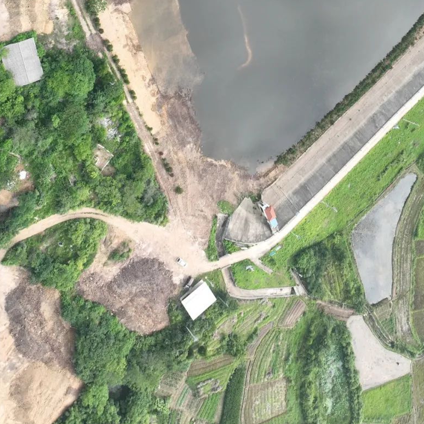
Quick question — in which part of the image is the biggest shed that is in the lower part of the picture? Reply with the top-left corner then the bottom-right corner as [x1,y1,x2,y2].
[179,276,216,320]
